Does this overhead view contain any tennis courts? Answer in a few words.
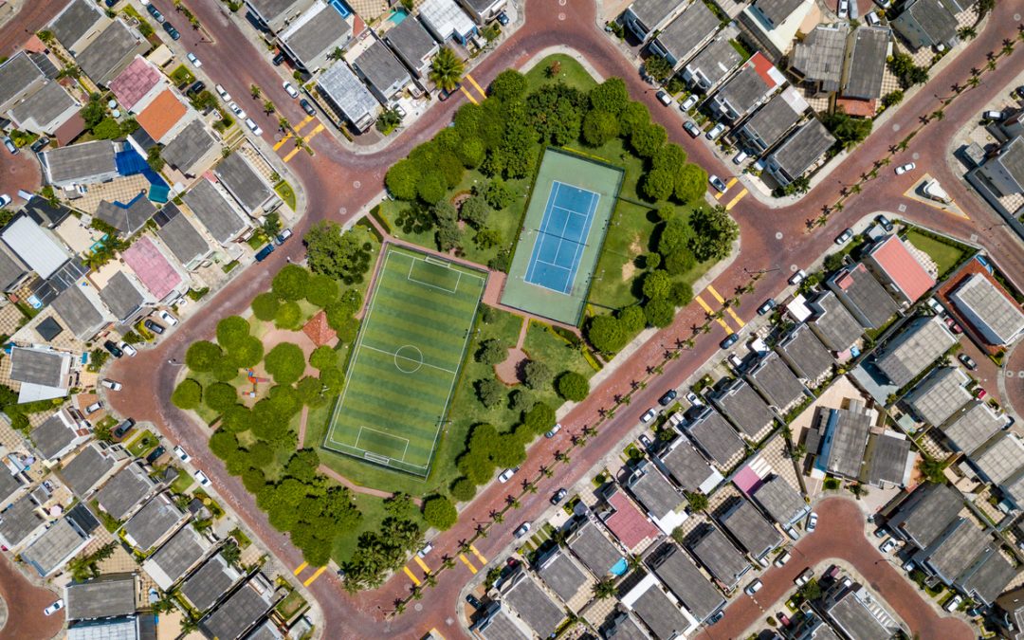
Yes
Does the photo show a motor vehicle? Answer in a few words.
Yes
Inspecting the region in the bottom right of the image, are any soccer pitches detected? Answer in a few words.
No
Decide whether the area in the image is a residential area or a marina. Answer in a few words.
residential area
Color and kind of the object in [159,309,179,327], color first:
white car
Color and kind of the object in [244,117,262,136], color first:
white car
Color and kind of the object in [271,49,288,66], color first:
black car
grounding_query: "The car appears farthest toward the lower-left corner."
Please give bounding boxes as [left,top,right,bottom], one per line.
[45,598,65,614]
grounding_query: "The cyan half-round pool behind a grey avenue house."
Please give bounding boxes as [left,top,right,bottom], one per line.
[610,558,630,577]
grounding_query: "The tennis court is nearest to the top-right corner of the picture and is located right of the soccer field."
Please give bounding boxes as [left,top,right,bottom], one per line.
[501,149,623,326]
